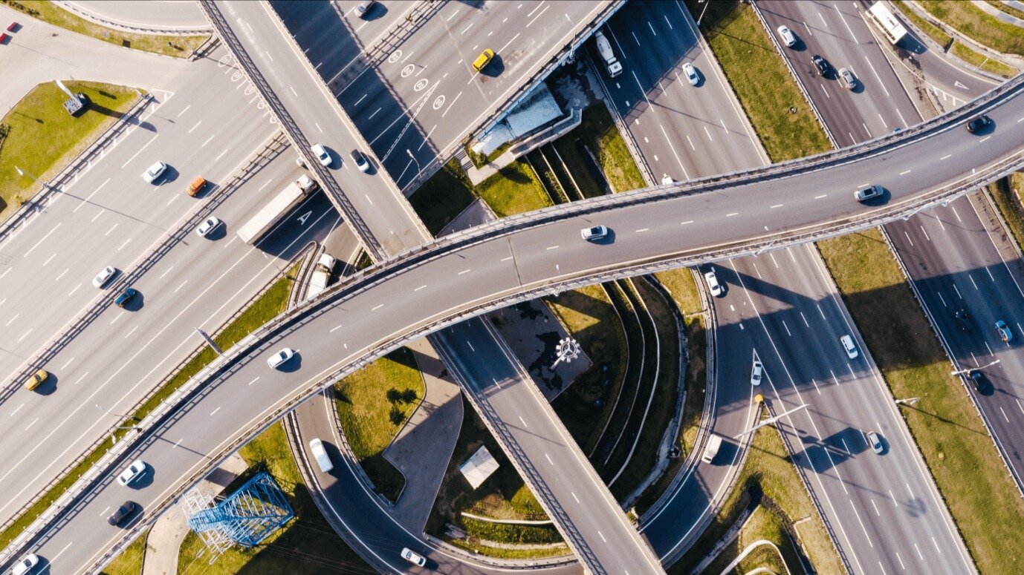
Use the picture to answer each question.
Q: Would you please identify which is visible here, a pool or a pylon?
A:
pylon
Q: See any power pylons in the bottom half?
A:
Yes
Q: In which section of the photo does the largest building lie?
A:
top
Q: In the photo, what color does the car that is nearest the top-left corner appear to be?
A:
white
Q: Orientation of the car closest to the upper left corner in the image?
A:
diagonally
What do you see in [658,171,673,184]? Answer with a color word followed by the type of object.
white vehicle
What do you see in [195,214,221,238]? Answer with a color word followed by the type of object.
white car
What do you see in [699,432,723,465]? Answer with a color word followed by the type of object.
white truck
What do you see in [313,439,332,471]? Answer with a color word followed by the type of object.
white vehicle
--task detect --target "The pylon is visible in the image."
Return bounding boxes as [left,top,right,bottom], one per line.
[175,474,295,562]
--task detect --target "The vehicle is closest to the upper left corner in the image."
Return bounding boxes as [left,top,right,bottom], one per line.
[142,160,167,184]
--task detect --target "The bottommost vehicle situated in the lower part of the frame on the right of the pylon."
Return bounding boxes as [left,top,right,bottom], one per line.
[400,547,426,567]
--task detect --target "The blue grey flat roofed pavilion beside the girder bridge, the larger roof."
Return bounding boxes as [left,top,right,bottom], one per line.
[507,82,563,136]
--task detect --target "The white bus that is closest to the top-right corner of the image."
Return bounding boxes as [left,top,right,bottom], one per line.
[865,0,907,46]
